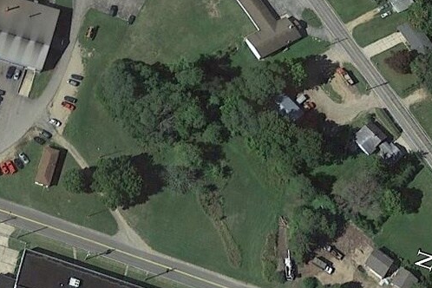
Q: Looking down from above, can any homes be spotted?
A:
Yes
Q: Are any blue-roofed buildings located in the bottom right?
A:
No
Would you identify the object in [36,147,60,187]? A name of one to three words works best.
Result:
house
